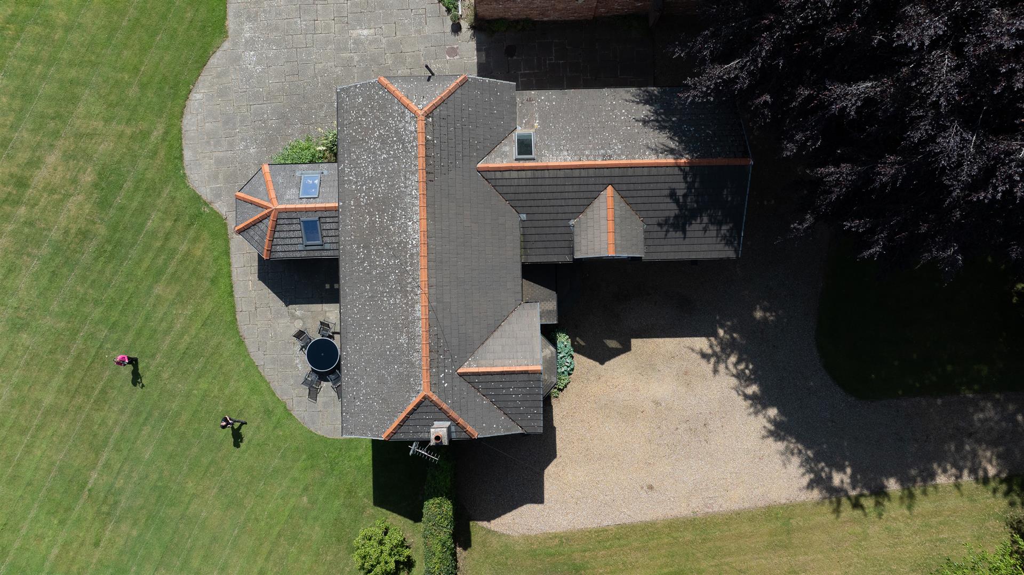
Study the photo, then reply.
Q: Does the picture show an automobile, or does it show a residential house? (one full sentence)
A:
I can see a residential house in this picture.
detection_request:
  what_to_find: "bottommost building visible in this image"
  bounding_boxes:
[233,63,752,447]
